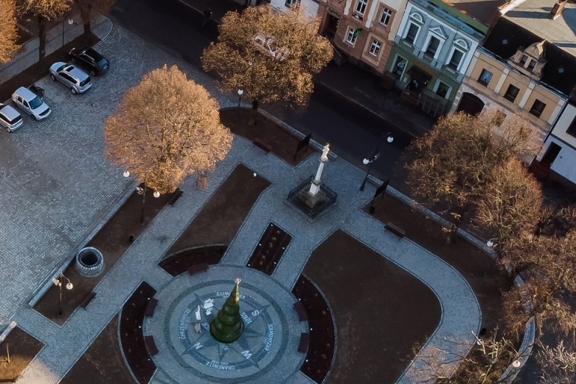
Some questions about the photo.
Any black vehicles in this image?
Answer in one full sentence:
Yes, you can see a black vehicle in this photo.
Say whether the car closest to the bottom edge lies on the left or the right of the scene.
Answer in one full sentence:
It is on the left.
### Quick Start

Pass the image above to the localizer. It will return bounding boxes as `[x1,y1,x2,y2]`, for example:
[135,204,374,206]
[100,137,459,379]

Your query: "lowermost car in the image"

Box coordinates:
[0,103,24,130]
